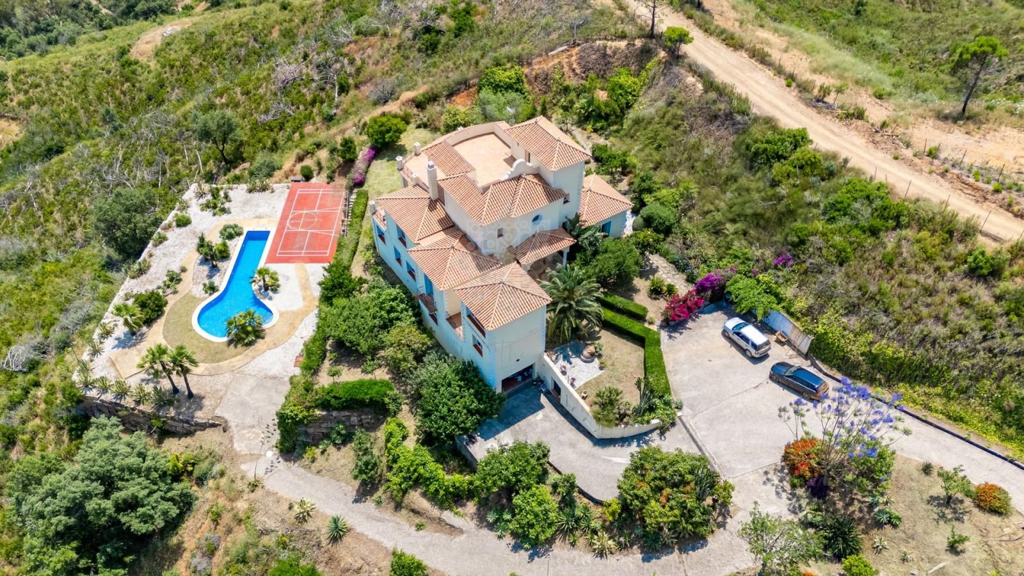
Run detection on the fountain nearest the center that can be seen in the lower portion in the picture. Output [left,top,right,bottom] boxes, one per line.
[577,345,599,368]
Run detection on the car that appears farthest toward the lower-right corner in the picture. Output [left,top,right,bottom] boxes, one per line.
[767,359,829,402]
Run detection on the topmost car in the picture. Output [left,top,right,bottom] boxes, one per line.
[722,318,773,360]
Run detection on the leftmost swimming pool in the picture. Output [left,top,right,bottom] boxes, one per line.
[191,220,280,343]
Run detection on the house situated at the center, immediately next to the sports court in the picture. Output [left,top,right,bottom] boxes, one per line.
[369,116,634,398]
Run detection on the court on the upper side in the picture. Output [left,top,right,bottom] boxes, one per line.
[266,182,345,264]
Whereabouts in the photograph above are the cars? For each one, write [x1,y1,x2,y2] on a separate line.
[767,359,829,402]
[722,318,773,360]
